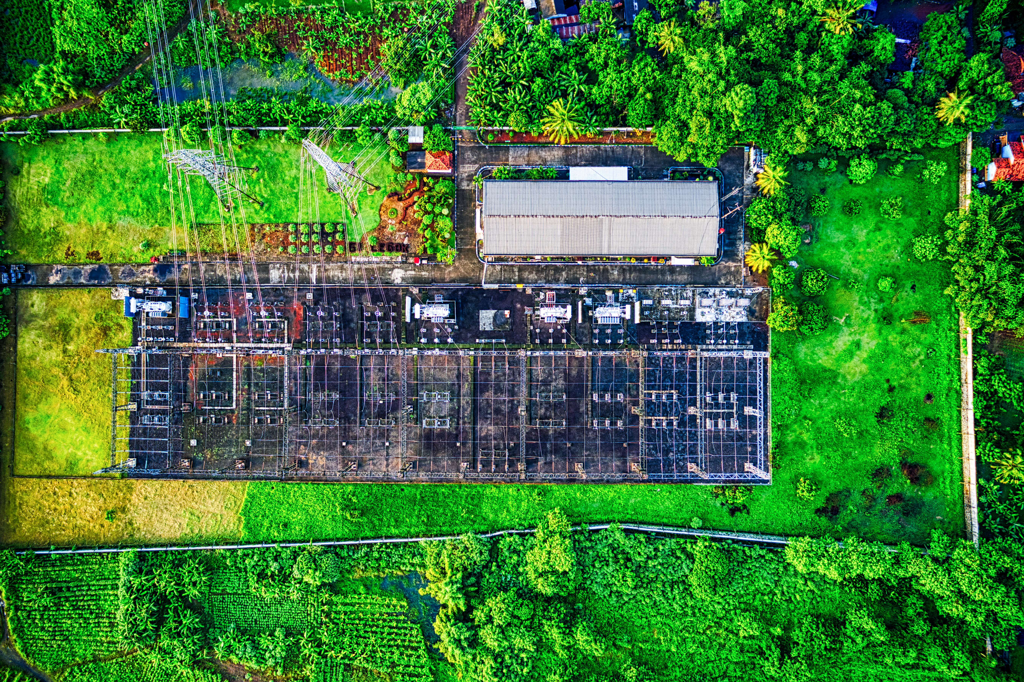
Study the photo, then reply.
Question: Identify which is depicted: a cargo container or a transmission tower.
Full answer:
Looking from above, you can make out a transmission tower.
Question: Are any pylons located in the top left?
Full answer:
Yes, there is a pylon in the top left.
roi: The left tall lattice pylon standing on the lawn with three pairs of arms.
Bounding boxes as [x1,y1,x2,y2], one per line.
[161,150,264,212]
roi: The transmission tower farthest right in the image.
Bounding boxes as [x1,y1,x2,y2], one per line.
[302,140,381,218]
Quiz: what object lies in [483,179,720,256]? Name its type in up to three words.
building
